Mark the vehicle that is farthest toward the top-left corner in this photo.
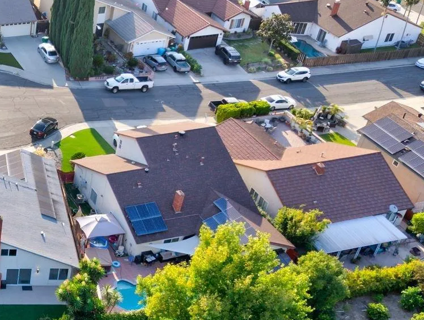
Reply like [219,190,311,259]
[40,47,59,61]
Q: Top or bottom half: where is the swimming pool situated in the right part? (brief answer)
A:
top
